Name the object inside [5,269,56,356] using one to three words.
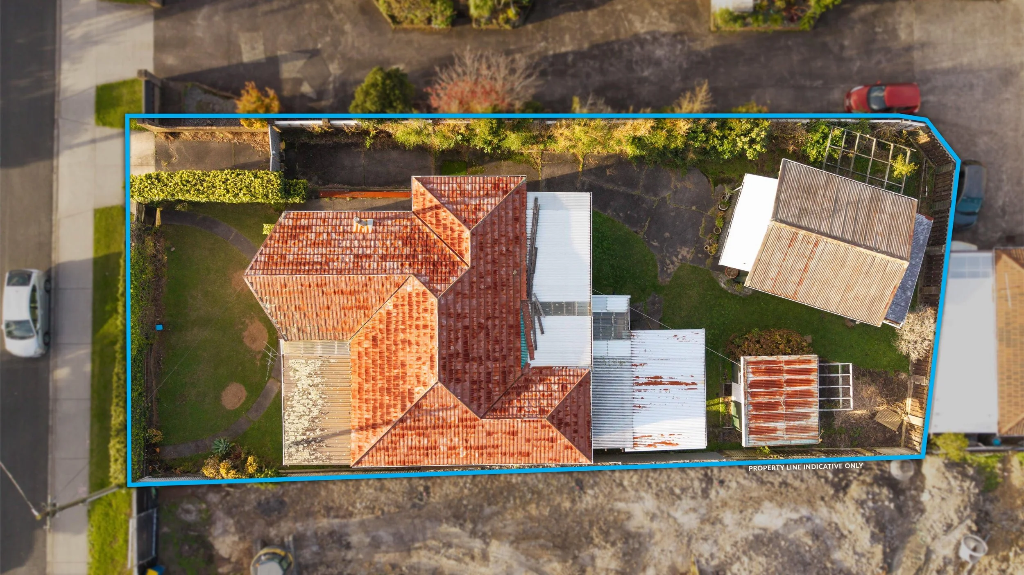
car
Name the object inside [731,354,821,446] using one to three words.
shed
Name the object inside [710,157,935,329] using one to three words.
building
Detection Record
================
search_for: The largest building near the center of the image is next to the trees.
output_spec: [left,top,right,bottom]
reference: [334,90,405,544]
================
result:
[242,174,593,468]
